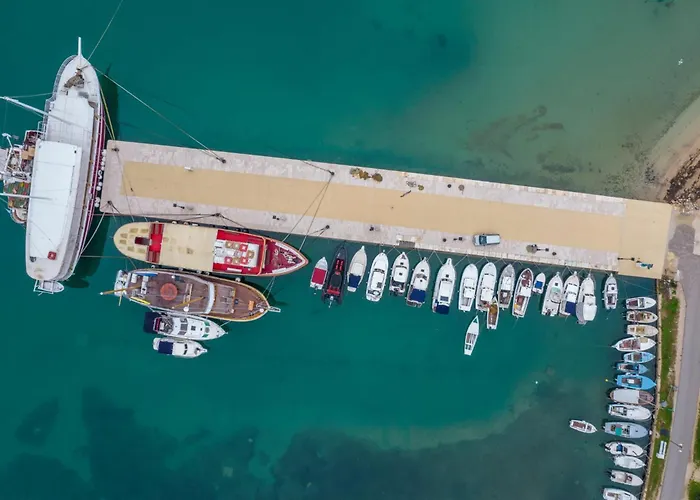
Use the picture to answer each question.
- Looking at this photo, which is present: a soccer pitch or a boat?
boat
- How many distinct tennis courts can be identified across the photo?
0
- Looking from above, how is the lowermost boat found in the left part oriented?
from side to side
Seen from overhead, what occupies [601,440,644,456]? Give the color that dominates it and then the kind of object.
white boat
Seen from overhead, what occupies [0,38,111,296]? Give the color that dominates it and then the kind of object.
white ship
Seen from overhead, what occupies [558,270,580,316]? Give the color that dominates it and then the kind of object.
white boat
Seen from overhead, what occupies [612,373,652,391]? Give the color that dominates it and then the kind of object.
blue boat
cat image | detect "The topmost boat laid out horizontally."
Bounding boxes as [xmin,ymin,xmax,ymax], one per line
[114,220,308,276]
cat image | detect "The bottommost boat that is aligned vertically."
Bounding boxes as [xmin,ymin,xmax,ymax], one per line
[464,316,480,355]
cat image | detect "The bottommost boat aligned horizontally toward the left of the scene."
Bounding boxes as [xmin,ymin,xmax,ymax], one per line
[152,336,209,357]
